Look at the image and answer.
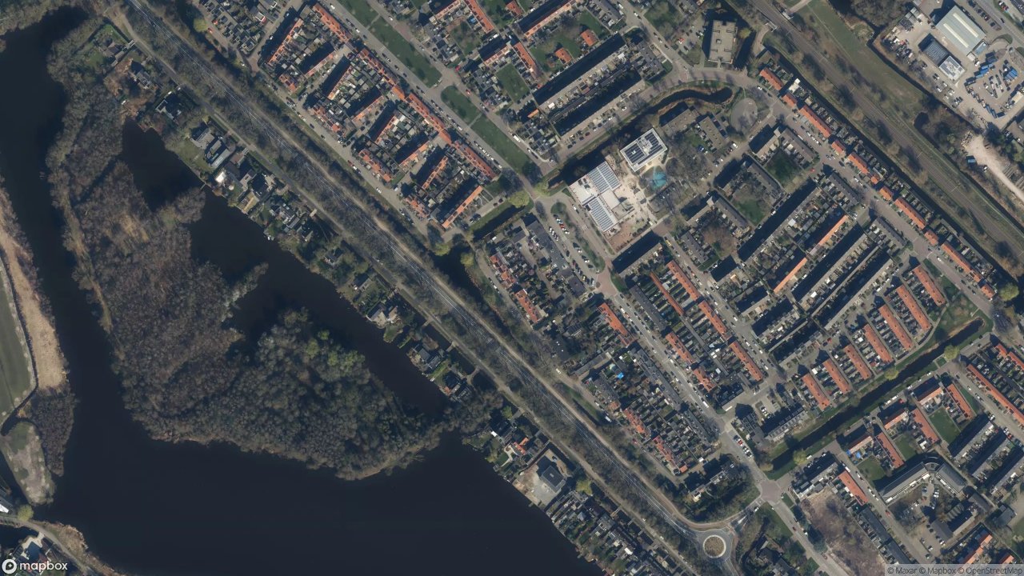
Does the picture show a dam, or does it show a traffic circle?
traffic circle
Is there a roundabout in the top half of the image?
No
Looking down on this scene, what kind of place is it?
residential area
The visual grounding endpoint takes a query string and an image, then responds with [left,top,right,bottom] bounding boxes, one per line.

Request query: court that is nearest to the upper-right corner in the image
[731,98,758,132]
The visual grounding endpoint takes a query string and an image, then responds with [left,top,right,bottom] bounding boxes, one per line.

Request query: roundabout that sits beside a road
[677,516,747,567]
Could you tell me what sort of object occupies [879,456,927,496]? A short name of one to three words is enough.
house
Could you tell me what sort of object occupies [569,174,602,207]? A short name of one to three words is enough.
building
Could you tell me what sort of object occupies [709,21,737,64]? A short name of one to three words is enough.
building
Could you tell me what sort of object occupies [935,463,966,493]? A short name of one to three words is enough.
house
